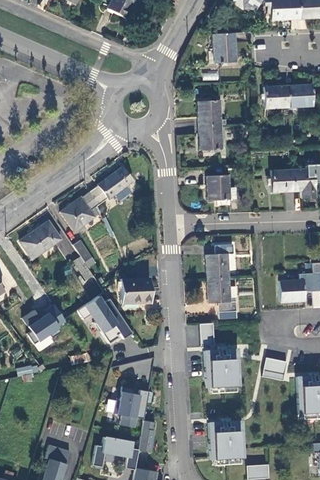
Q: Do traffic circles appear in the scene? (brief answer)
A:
Yes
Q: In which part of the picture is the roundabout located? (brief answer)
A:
top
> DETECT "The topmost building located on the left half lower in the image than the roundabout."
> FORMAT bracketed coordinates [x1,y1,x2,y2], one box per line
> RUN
[97,166,134,202]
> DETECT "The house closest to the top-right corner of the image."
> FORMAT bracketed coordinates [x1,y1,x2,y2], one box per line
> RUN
[264,0,320,24]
